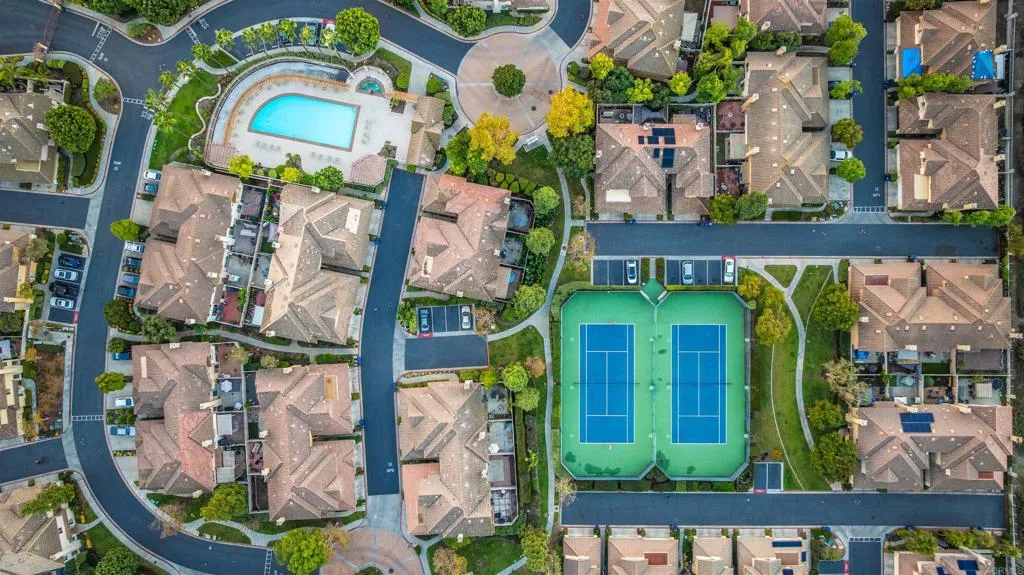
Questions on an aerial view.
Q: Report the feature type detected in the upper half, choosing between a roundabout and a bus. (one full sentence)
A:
Visible in the upper half is a roundabout.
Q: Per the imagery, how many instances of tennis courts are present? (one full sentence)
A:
Altogether the scene contains 2 tennis courts.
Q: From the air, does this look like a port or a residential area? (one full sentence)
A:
The picture captures a residential area.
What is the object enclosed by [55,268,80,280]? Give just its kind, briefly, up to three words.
vehicle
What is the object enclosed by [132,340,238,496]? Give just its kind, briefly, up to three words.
house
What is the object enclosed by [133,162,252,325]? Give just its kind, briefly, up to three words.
house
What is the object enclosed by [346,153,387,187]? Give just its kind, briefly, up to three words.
gazebo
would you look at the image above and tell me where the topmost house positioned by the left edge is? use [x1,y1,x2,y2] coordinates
[0,92,80,188]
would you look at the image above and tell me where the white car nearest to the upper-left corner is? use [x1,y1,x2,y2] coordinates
[140,168,163,182]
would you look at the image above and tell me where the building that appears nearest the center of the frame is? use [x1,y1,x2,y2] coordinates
[408,174,512,301]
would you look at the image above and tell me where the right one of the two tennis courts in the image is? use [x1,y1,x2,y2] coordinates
[656,285,748,480]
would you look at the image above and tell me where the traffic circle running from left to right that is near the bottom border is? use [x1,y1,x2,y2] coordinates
[315,527,421,575]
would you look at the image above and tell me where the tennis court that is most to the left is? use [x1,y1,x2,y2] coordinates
[561,280,656,479]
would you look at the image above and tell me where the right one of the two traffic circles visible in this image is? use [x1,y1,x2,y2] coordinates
[456,30,564,133]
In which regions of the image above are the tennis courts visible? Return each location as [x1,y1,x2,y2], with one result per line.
[656,285,748,480]
[561,280,656,479]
